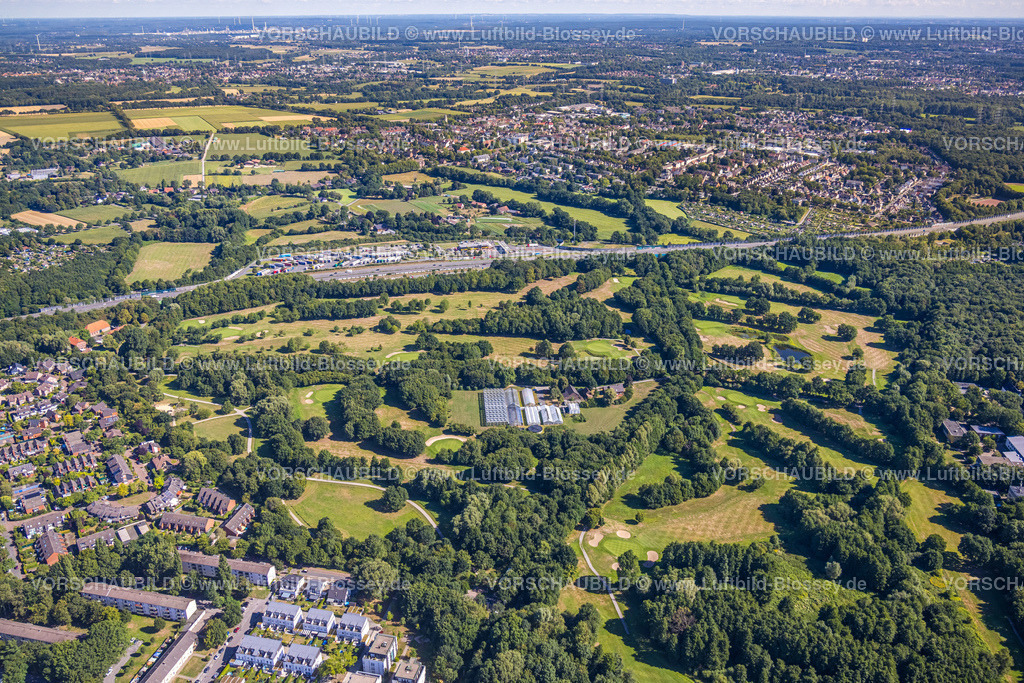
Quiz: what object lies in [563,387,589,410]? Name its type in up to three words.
barn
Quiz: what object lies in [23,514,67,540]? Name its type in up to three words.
house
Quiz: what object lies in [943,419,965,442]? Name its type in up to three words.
building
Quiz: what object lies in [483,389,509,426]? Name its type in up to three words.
greenhouse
